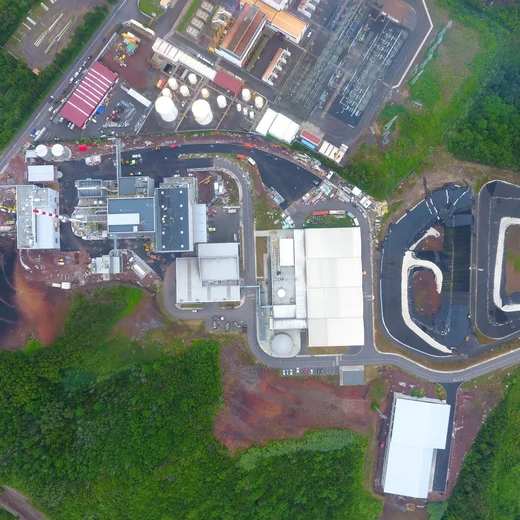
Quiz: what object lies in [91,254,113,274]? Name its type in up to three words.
house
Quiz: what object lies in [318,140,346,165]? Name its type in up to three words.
building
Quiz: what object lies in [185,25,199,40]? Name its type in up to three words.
cooling tower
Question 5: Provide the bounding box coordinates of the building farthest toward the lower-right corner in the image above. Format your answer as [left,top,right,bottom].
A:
[381,395,451,499]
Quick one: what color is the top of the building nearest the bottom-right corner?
white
